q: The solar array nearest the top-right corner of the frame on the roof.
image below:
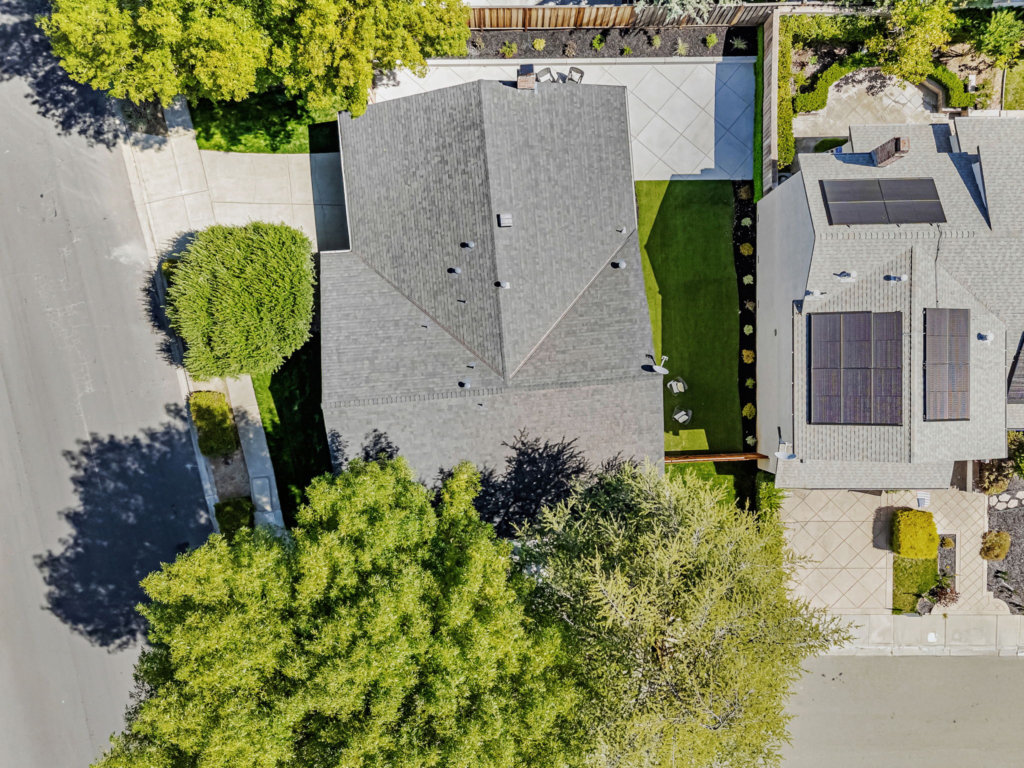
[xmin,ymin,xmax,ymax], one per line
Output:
[818,181,949,227]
